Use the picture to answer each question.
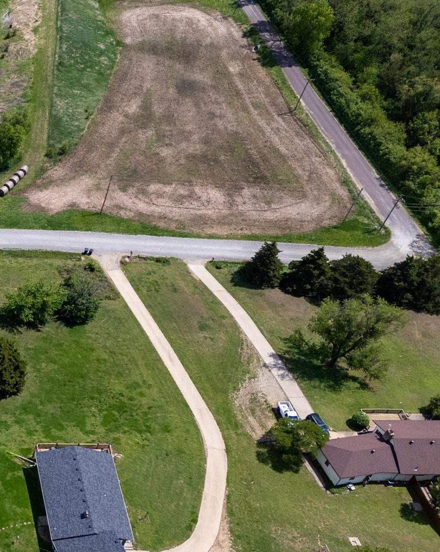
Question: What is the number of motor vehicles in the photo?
2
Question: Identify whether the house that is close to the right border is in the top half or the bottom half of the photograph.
bottom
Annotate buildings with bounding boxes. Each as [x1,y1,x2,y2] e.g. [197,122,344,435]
[33,447,134,552]
[319,419,440,488]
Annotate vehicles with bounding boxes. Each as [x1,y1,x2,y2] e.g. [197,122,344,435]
[304,410,336,437]
[271,394,304,423]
